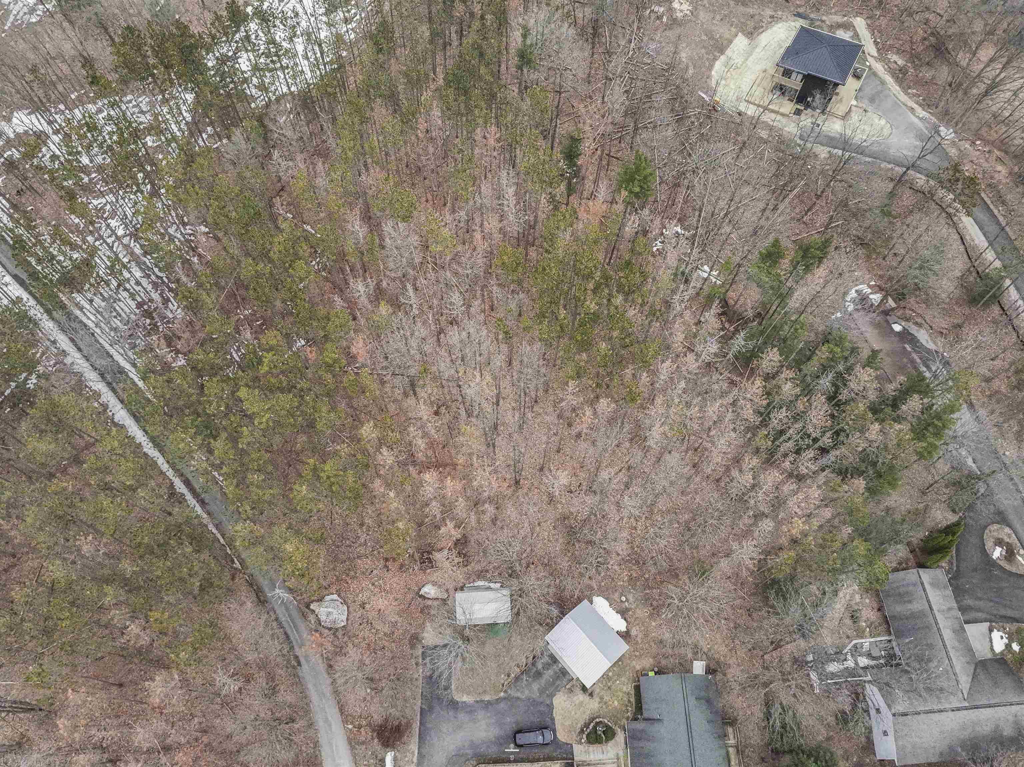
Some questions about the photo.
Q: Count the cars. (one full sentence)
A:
In total, there is 1 car in the scene.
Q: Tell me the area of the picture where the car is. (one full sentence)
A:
The car is located in the bottom region of the scene.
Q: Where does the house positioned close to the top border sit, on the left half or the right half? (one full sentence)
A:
You can find the house positioned close to the top border on the right side of the picture.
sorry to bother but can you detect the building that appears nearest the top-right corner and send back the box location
[744,25,868,119]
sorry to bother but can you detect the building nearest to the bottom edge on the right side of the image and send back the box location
[625,674,727,767]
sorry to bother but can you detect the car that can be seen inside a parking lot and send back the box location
[512,726,554,748]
